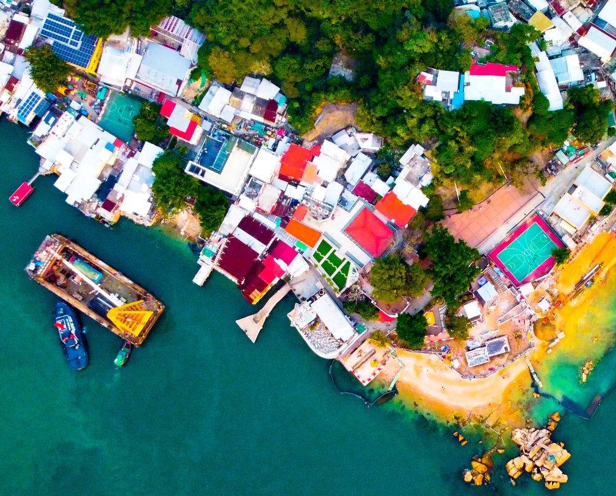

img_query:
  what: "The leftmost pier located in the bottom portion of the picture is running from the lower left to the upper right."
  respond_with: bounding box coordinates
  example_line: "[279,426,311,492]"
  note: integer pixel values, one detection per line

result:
[236,284,291,343]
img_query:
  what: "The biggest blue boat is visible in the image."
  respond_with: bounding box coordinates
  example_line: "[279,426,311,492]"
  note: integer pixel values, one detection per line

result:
[54,300,87,369]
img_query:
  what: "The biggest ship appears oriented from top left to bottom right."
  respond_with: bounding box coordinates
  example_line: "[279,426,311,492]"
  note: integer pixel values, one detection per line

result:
[25,234,166,346]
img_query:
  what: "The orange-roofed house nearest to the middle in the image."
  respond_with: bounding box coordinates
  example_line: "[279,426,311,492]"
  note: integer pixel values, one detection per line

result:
[285,219,322,247]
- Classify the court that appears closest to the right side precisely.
basketball court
